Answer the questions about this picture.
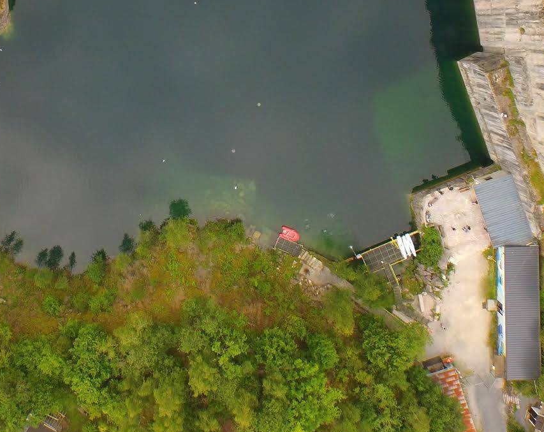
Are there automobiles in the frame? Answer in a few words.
No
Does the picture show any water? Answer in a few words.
Yes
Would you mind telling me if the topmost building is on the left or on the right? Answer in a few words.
right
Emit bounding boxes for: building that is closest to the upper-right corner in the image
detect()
[466,166,532,249]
